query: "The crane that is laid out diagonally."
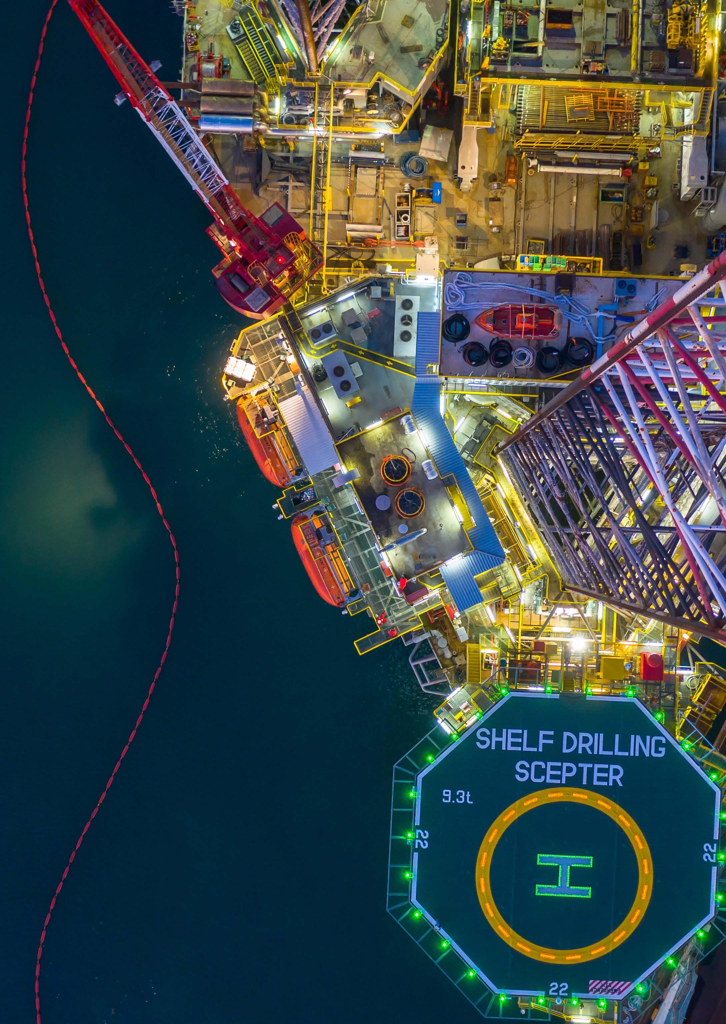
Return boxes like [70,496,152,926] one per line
[64,0,326,328]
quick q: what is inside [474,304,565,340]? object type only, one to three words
boat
